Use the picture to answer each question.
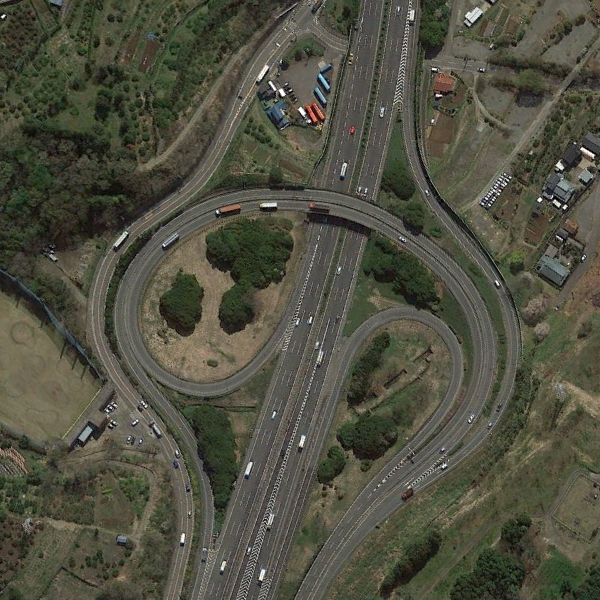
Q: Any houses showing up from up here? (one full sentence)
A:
Yes, there's a house down there.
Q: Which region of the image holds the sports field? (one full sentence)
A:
The sports field sits in the left section of the image.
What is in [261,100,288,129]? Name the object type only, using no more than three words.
house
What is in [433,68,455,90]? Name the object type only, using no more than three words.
house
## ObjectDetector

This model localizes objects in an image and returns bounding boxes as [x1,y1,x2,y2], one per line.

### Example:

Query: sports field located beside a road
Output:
[0,276,103,444]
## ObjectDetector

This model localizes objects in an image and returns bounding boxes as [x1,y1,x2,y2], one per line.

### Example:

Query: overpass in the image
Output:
[303,188,386,231]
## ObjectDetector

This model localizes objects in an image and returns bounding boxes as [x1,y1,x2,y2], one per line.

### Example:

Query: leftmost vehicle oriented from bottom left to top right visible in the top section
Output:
[112,231,129,249]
